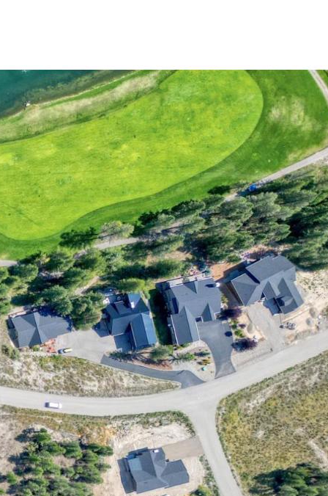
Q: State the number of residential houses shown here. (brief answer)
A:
five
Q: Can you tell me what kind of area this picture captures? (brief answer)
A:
golf course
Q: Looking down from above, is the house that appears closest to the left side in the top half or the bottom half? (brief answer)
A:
bottom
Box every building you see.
[161,278,221,345]
[125,446,190,493]
[224,255,303,312]
[102,292,160,348]
[10,309,73,348]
